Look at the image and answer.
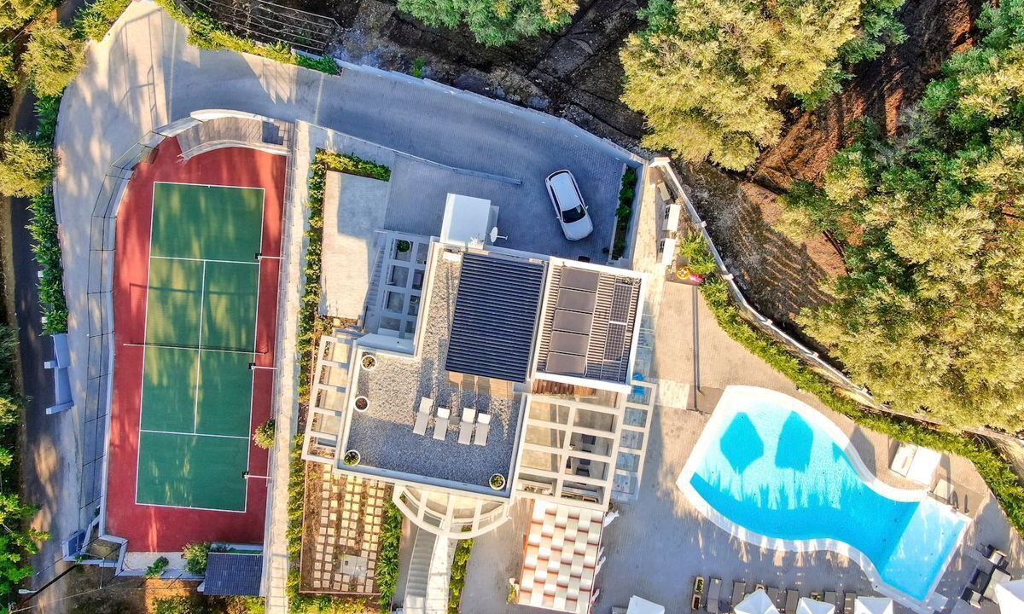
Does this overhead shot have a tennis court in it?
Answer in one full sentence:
Yes, a tennis court is visible in the scene.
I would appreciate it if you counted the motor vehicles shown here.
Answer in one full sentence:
I count 1 motor vehicle.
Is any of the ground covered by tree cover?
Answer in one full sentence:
Yes, some tree cover is visible.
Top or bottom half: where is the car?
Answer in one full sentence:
You can find the car in the top half.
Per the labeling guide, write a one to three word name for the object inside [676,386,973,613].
swimming pool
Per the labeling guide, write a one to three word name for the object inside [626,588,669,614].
umbrella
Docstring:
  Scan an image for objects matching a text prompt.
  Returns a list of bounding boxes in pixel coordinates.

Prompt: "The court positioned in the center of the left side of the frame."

[107,138,287,553]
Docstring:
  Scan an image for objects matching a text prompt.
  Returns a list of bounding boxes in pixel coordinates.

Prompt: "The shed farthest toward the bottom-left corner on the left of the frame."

[197,540,263,596]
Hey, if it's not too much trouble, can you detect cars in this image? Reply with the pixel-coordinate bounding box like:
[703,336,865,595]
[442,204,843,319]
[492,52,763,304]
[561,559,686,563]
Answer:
[546,168,595,245]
